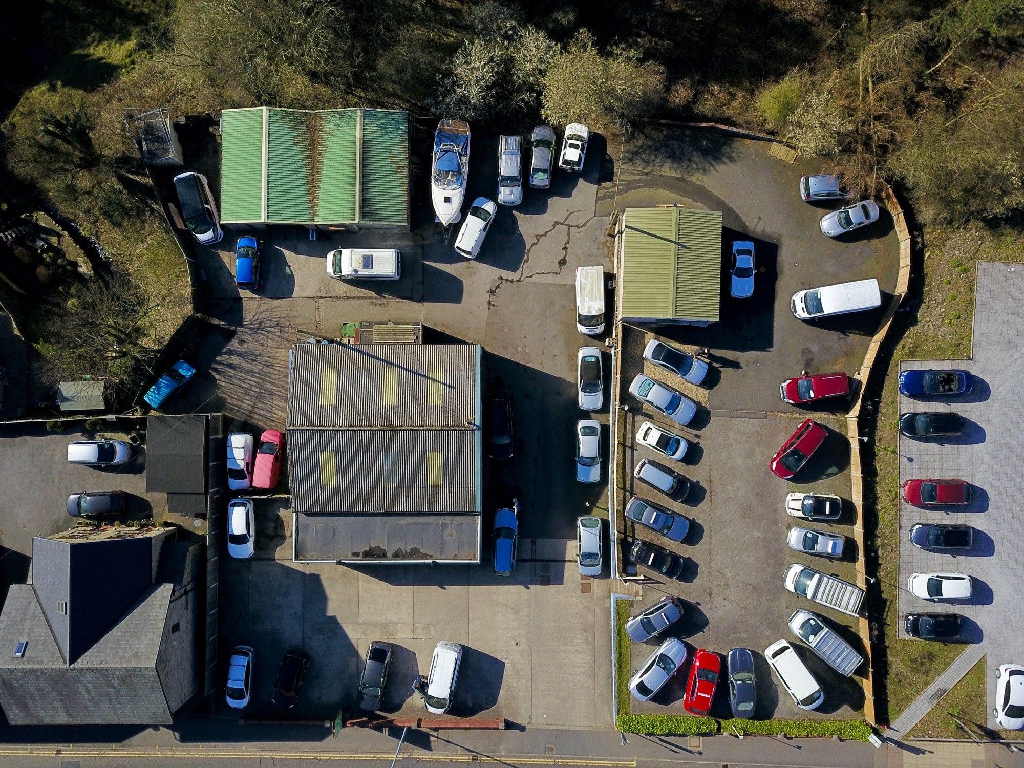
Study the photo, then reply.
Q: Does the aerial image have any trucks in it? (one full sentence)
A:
Yes, looking at the shot, I can spot a truck.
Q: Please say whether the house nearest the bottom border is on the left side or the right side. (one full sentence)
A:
You can find the house nearest the bottom border on the left side of the picture.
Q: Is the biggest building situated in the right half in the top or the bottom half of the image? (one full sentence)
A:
You can find the biggest building situated in the right half in the top half.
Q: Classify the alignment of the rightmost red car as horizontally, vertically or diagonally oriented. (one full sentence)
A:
The rightmost red car has been laid out horizontally relative to the frame.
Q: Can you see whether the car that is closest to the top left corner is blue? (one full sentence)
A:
Yes, the car that is closest to the top left corner is blue.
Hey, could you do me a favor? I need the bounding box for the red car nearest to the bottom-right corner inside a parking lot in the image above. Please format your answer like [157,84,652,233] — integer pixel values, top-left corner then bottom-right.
[902,477,972,510]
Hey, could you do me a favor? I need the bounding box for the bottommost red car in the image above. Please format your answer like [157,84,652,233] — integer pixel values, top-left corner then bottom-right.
[682,648,722,715]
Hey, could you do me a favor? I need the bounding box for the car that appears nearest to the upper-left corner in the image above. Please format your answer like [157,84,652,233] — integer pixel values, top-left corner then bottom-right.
[231,236,263,290]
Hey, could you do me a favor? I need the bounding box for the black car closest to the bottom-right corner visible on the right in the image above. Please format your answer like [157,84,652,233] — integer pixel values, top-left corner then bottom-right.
[904,611,965,645]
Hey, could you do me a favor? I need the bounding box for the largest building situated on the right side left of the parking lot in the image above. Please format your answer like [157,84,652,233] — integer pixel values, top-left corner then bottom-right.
[619,206,723,326]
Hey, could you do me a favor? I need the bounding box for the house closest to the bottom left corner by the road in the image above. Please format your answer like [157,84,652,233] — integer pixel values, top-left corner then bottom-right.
[0,527,202,725]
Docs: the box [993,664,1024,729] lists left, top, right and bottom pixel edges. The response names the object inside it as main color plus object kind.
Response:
white car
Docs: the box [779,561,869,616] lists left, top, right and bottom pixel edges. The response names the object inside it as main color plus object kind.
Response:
white truck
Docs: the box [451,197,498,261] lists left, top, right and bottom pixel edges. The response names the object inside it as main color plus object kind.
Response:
white car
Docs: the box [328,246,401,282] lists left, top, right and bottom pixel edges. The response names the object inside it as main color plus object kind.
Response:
white van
